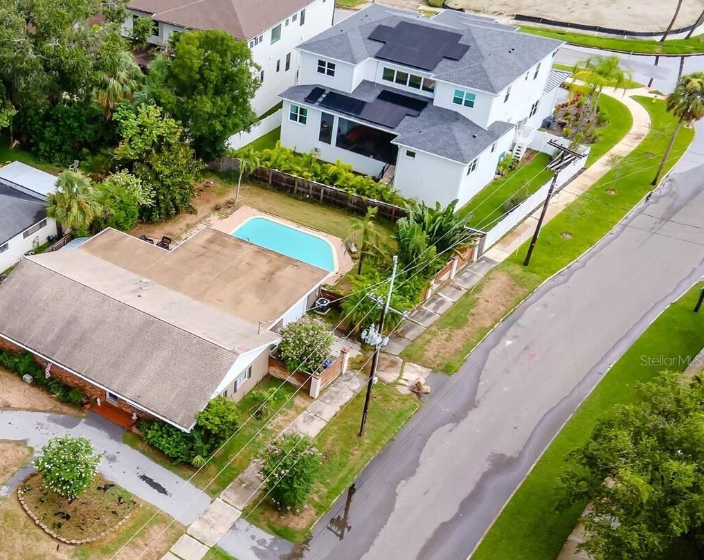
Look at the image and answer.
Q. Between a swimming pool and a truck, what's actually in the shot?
swimming pool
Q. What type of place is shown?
residential area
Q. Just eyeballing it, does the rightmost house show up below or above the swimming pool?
above it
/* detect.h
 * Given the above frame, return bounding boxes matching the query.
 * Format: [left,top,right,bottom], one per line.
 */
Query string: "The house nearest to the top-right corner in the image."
[278,5,572,208]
